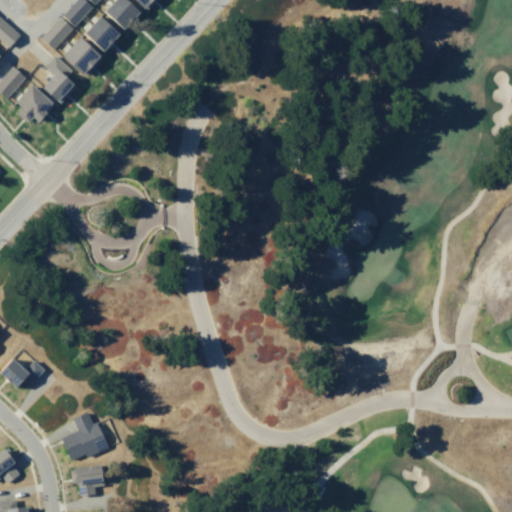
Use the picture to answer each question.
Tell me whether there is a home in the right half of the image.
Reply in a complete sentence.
No, there is no home in the right half of the image.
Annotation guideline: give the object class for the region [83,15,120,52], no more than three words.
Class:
house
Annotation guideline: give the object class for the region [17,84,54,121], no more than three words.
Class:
house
